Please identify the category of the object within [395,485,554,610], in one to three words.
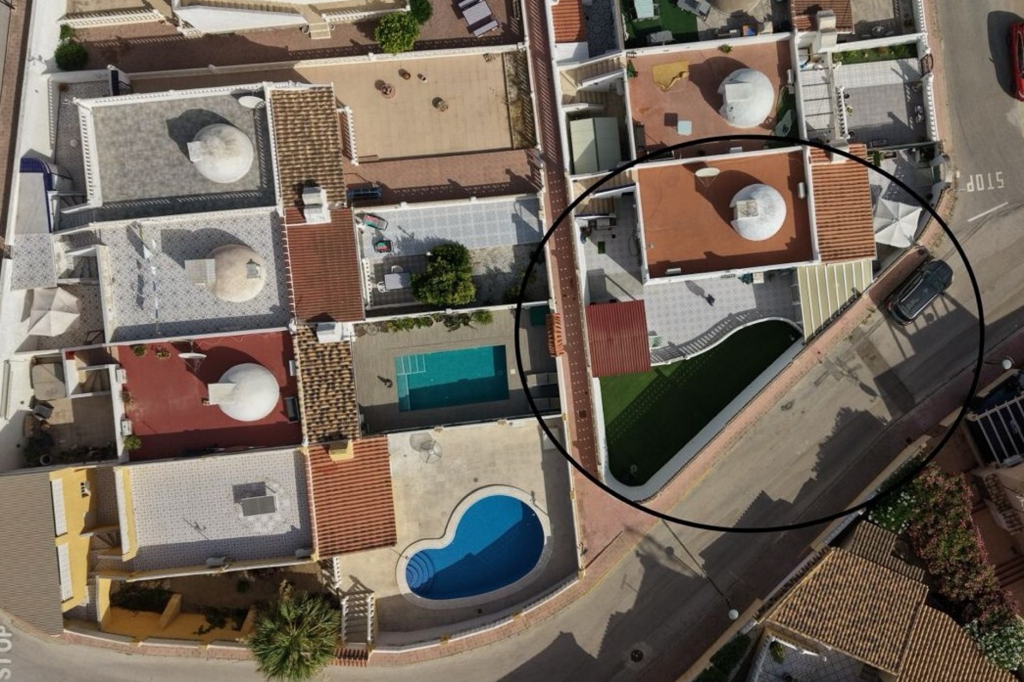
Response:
swimming pool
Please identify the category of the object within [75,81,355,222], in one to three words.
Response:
house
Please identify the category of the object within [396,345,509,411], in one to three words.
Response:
swimming pool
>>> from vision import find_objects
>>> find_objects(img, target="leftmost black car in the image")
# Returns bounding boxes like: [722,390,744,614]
[879,258,954,329]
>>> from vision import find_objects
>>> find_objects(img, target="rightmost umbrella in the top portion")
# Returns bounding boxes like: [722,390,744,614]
[873,192,925,247]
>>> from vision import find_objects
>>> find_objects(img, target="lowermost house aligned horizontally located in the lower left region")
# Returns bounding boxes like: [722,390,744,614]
[115,433,397,585]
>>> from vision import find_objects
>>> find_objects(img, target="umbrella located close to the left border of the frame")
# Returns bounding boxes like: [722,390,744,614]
[32,286,88,338]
